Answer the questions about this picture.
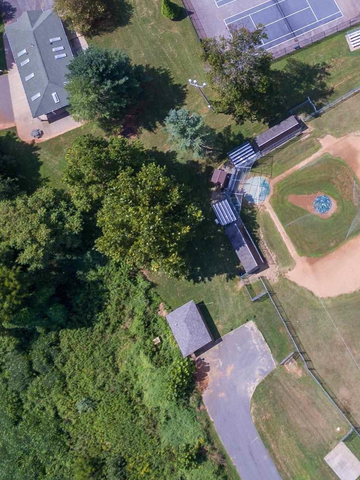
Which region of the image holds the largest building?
top left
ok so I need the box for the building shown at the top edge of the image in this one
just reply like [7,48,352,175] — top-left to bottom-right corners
[5,9,82,121]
